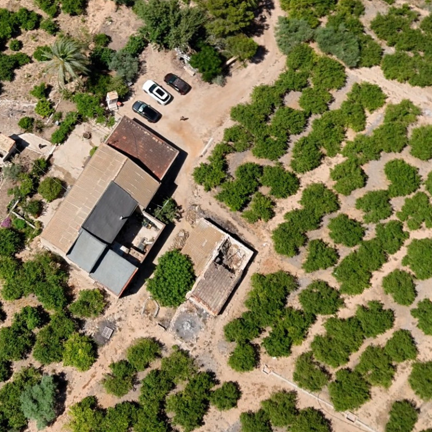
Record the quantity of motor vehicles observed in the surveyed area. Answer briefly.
3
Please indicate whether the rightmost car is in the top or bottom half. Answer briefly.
top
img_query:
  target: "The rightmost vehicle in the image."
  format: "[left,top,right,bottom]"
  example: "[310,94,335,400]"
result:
[161,72,194,98]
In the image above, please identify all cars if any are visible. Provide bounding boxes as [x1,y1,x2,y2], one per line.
[161,72,194,98]
[138,78,173,109]
[129,98,164,126]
